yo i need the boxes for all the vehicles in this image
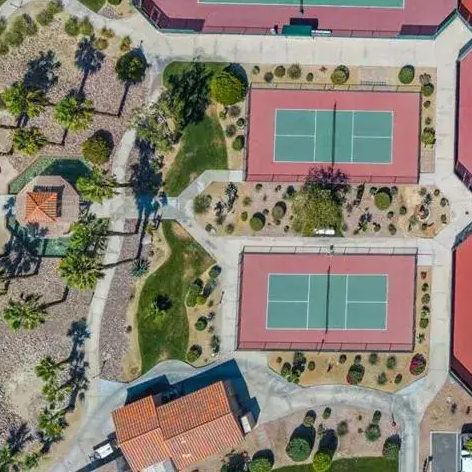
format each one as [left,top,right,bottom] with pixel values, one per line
[460,431,472,472]
[94,437,119,459]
